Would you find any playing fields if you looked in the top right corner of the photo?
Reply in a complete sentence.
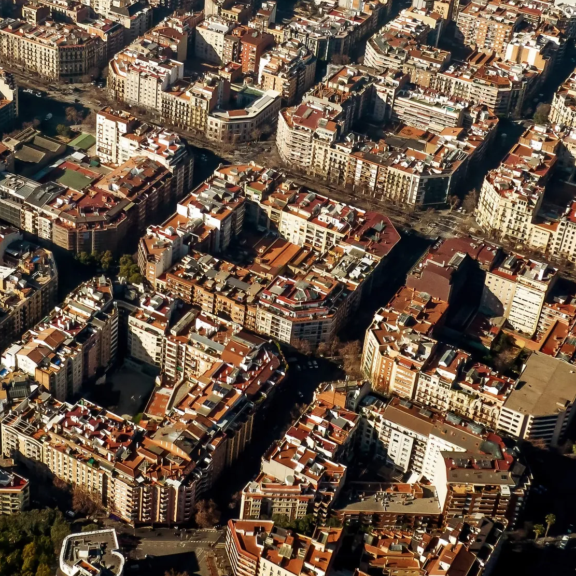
No, in the top right corner of the photo there is no playing field.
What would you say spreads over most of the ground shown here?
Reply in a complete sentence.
What you mostly see from above here is buildings.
